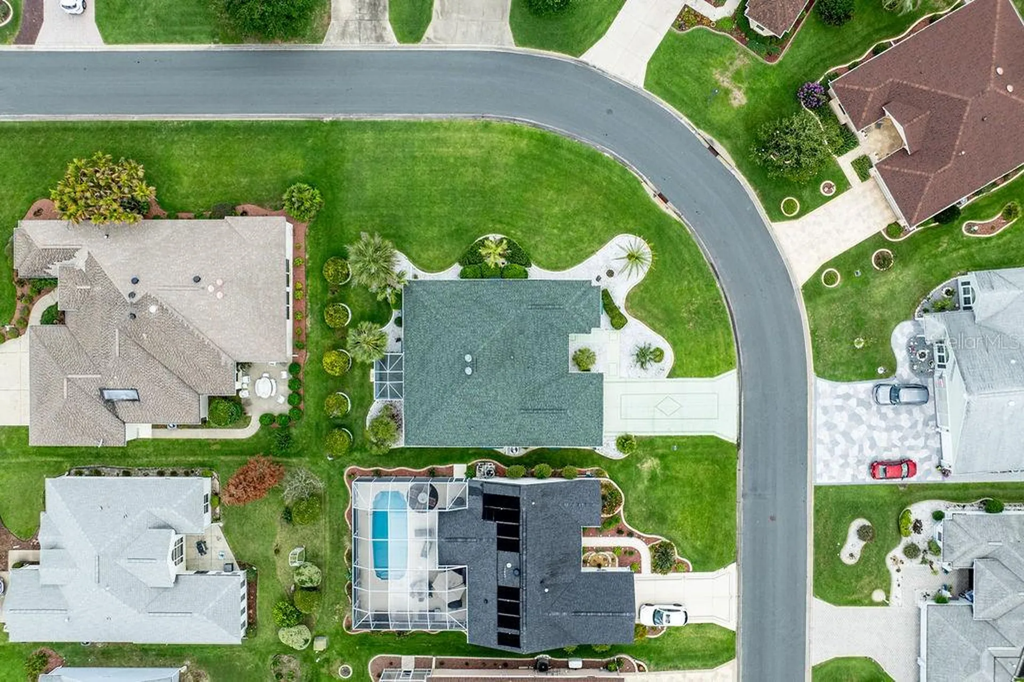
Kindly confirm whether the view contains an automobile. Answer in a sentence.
Yes, this view includes an automobile.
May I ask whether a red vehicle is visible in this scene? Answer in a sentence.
Yes, there's a red vehicle here.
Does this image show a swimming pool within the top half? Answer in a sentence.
No, no swimming pool can be made out within the top half.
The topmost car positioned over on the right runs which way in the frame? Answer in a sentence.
In this picture, the topmost car positioned over on the right lies horizontally.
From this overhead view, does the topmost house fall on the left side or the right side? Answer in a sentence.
It is on the right.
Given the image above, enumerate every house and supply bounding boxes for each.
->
[37,660,187,682]
[825,0,1024,229]
[403,279,604,448]
[913,268,1024,475]
[744,0,807,43]
[0,477,247,646]
[437,478,637,664]
[13,215,292,446]
[915,512,1024,682]
[426,669,625,682]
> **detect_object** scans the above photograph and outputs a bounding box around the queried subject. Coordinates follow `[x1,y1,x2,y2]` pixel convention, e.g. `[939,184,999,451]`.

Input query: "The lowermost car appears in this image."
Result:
[639,603,687,628]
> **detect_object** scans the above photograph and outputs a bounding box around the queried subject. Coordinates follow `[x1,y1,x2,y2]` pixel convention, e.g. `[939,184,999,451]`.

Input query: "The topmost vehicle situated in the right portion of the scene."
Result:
[872,383,929,407]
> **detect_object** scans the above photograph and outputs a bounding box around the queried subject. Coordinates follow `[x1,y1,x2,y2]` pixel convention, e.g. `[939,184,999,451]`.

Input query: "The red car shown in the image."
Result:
[868,459,916,481]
